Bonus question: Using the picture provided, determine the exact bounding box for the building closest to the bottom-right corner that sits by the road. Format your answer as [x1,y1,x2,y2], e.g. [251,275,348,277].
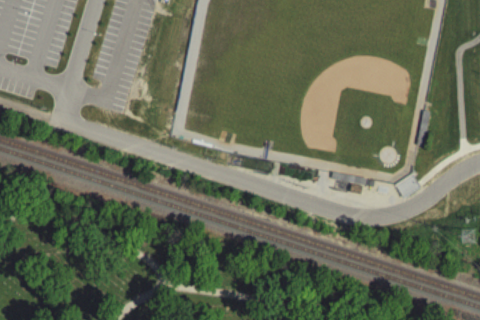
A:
[394,170,421,196]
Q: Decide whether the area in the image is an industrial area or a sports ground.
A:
sports ground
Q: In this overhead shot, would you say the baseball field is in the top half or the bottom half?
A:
top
